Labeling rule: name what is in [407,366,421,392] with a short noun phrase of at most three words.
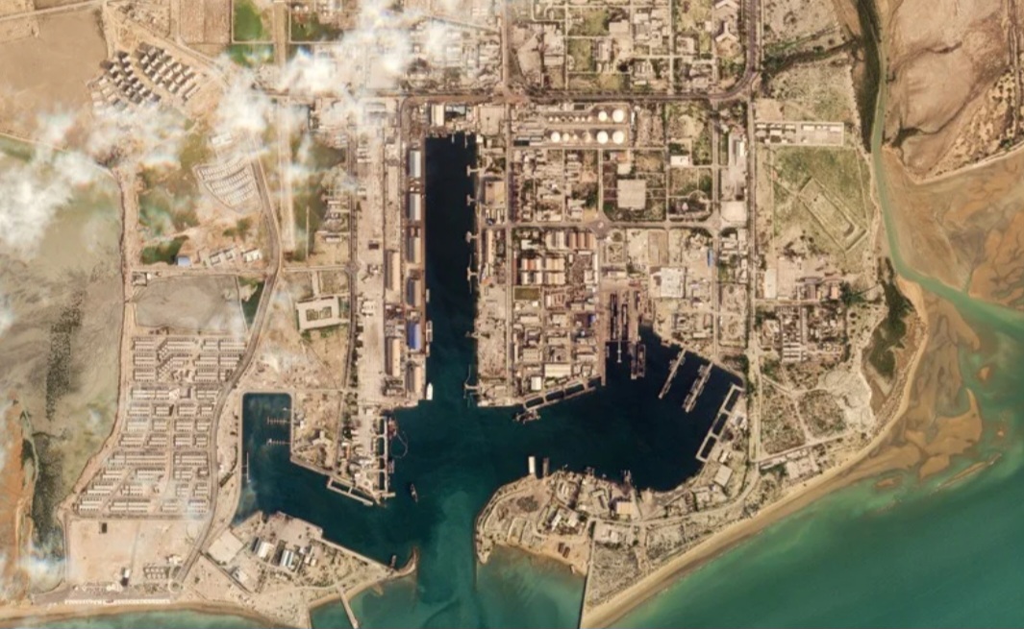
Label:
building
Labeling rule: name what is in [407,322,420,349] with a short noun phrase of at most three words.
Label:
building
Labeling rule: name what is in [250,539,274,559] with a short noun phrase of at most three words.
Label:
hangar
